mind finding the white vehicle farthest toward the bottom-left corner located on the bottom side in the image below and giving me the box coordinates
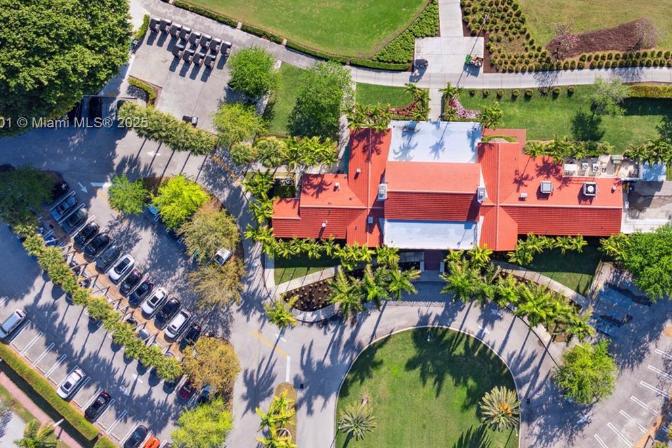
[58,368,88,398]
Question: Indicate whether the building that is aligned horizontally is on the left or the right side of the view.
right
